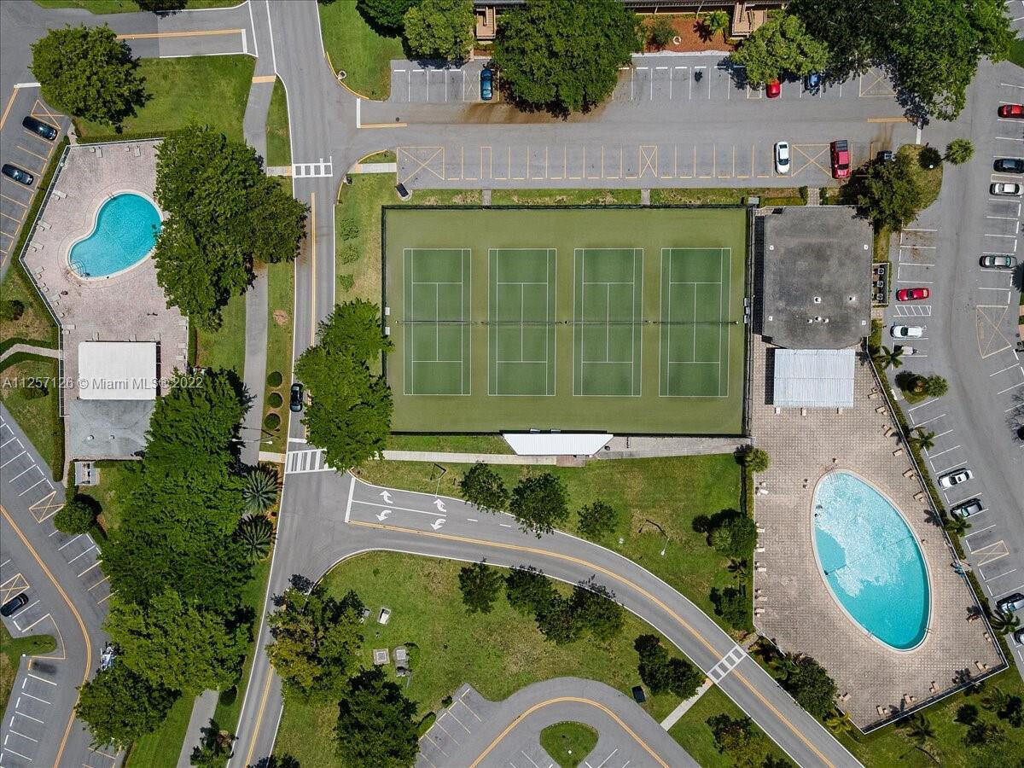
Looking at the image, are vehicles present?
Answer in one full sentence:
Yes, the image includes a vehicle.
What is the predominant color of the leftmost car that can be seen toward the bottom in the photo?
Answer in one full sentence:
The color of the leftmost car that can be seen toward the bottom is black.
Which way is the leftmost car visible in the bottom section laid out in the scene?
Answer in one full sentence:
From this overhead view, the leftmost car visible in the bottom section appears to run at an angle.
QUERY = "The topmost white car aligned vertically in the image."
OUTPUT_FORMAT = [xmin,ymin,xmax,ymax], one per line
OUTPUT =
[774,143,789,174]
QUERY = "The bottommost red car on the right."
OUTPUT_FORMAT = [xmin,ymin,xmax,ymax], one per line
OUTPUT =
[896,287,930,302]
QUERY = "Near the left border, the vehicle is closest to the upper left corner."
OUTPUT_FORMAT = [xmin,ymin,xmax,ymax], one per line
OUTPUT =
[23,117,58,140]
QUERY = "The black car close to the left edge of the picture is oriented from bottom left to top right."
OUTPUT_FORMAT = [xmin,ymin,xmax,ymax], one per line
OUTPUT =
[1,592,31,617]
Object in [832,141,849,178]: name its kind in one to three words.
vehicle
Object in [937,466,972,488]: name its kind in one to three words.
car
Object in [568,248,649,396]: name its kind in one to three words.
tennis court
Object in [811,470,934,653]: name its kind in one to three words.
swimming pool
